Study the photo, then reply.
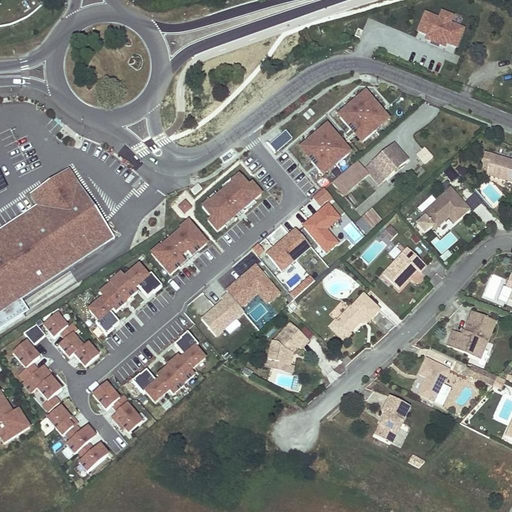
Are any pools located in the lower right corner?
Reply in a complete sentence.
Yes, in the lower right corner there is a pool.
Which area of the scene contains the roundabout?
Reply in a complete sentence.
The roundabout is in the top left part of the image.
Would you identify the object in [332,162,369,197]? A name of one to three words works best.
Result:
shed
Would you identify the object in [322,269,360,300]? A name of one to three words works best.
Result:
swimming pool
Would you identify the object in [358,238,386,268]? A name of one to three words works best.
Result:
swimming pool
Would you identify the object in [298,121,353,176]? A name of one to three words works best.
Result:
house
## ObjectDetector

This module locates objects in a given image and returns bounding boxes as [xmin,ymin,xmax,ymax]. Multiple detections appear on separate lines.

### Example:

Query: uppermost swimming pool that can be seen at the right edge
[480,181,504,206]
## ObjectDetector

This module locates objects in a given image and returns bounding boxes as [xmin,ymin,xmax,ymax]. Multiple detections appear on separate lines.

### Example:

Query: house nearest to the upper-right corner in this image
[416,9,466,48]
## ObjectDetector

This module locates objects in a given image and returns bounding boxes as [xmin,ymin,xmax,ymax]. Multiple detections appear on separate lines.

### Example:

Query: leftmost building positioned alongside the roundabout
[0,166,114,312]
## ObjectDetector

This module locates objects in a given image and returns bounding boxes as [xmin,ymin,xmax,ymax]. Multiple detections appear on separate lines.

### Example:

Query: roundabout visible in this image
[44,2,172,130]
